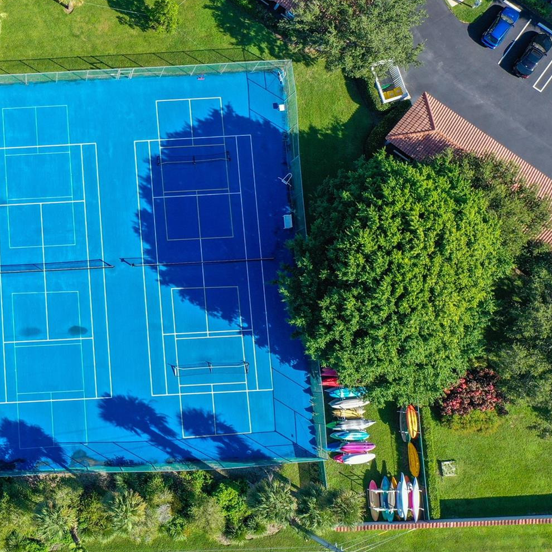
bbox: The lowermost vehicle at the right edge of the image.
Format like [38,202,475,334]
[513,31,552,80]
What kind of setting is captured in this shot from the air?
sports ground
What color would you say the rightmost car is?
black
